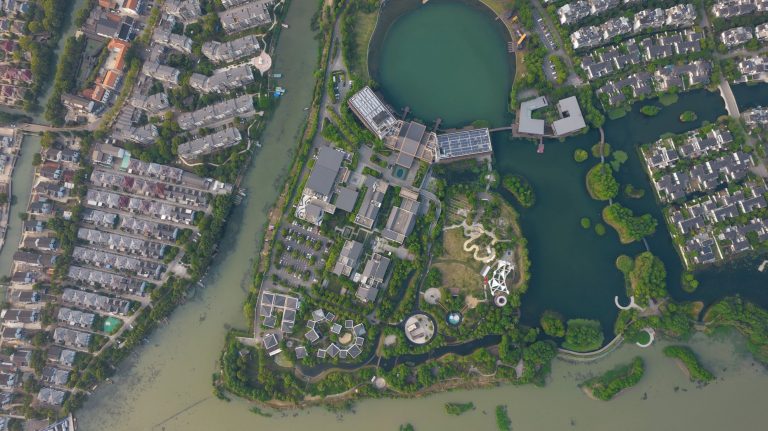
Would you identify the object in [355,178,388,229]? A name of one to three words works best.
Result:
building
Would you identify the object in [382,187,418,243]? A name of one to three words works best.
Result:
building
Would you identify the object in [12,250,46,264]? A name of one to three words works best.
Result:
house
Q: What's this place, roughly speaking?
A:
residential area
